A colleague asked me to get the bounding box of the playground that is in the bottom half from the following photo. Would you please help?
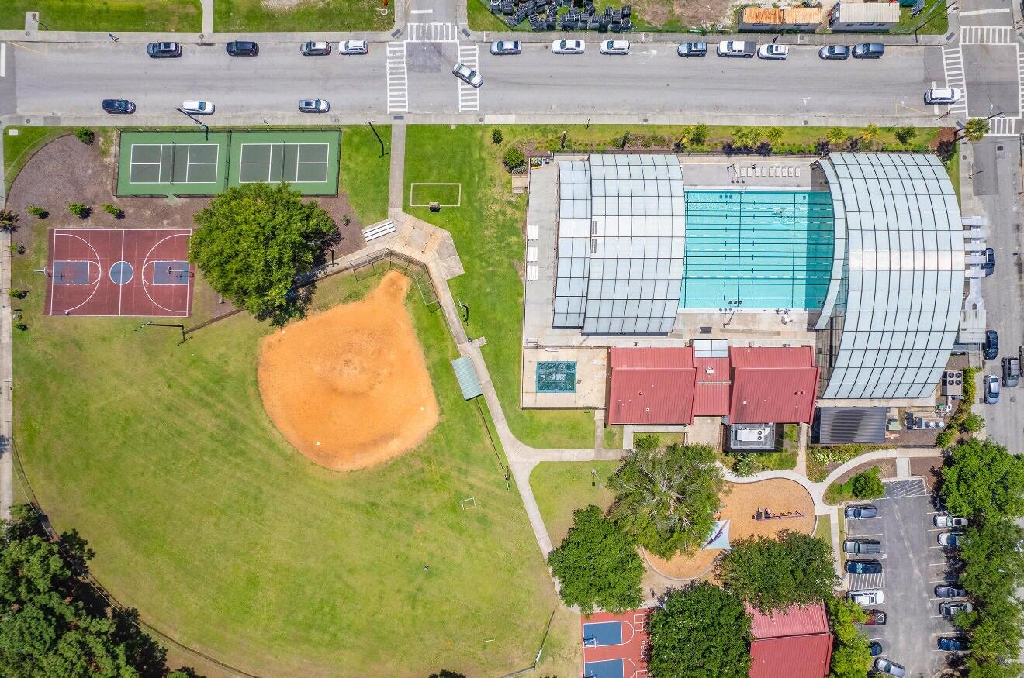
[640,478,818,579]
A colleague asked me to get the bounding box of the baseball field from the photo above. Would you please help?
[13,267,555,678]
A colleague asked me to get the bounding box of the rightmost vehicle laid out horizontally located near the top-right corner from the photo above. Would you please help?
[921,87,959,105]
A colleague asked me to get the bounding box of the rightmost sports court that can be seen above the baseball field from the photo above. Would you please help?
[228,130,340,195]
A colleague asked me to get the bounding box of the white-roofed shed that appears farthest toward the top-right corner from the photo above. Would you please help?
[831,3,900,31]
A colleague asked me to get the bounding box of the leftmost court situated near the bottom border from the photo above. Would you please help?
[581,608,666,678]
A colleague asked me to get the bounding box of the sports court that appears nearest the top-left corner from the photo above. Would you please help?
[117,130,228,206]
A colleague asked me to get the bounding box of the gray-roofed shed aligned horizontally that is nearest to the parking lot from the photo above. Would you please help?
[812,406,887,443]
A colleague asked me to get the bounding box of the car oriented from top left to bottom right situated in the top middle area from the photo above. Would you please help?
[452,63,484,88]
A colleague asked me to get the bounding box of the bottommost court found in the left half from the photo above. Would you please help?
[45,228,192,317]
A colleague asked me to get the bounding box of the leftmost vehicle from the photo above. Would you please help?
[102,98,138,114]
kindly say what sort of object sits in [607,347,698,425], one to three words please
building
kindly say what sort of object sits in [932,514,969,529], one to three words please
vehicle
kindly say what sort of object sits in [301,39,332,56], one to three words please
car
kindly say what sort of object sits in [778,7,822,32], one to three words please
shed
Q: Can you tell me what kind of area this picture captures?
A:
sports ground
